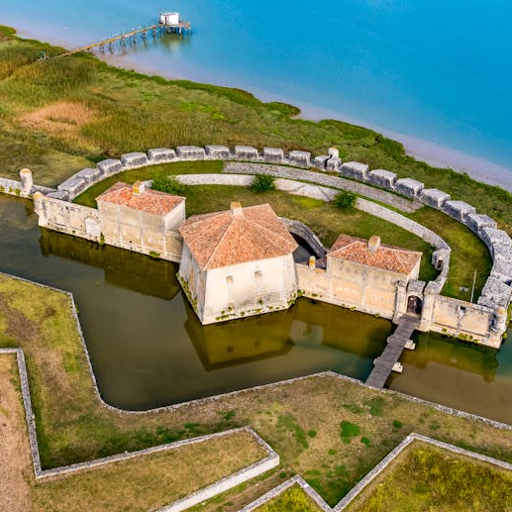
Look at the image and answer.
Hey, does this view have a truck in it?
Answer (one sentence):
No, the photo shows no truck.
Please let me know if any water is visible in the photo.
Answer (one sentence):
Yes, the picture does contain water.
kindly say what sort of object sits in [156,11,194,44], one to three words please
shed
